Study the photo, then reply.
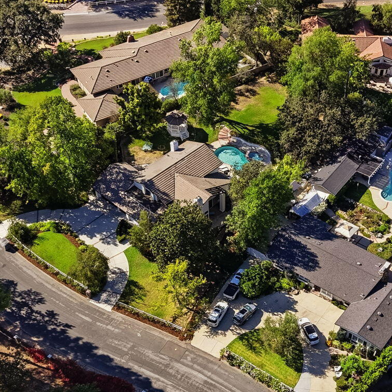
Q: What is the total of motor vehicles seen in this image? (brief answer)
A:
4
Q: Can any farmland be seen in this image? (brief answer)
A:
No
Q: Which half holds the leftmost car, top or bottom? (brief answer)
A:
bottom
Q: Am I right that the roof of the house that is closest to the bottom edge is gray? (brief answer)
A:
Yes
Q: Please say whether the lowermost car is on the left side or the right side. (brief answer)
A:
right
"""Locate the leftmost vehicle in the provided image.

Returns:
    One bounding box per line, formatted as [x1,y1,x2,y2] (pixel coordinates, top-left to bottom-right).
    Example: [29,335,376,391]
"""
[204,297,229,329]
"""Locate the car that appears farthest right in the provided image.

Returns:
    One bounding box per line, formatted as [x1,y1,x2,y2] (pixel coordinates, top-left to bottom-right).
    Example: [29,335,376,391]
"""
[296,314,323,347]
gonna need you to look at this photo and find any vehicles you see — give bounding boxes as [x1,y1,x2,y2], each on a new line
[229,297,260,329]
[204,297,229,329]
[296,314,323,347]
[221,265,246,300]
